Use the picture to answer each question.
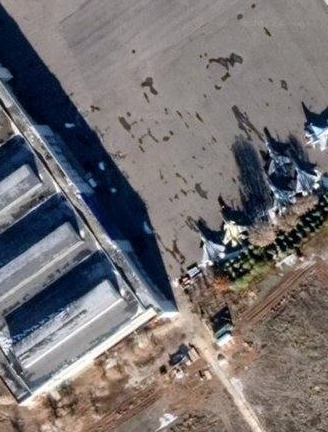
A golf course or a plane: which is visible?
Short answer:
plane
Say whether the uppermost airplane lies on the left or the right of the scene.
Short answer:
right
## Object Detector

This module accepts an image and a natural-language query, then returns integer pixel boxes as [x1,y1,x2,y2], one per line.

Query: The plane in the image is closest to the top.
[304,121,328,152]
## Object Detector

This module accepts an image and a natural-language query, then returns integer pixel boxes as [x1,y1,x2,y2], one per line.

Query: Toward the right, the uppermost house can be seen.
[212,324,236,346]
